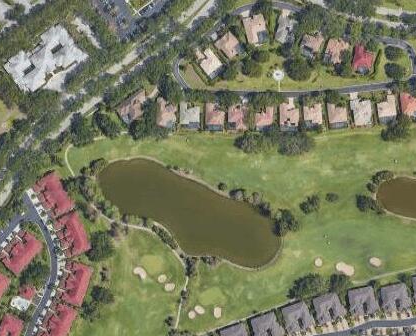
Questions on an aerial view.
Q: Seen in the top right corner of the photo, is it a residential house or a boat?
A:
residential house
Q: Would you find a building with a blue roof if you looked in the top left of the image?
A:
No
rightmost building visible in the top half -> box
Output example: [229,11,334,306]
[401,93,416,118]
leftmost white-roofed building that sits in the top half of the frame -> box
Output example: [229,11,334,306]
[3,22,89,92]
